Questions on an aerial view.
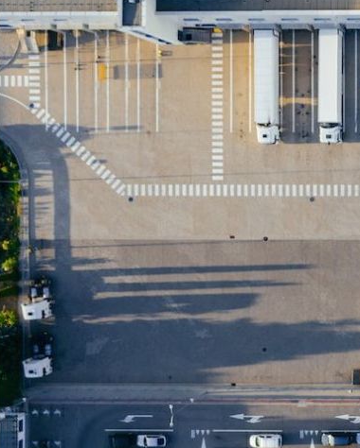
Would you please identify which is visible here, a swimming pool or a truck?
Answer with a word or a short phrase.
truck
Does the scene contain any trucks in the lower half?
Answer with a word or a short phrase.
Yes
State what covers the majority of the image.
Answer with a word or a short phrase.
paved ground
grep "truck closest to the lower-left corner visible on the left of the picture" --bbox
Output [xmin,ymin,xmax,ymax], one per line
[26,337,60,383]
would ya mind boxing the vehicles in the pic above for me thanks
[25,281,58,326]
[323,431,353,447]
[319,31,343,145]
[255,31,281,145]
[110,433,140,448]
[26,337,60,383]
[139,433,167,448]
[250,433,283,448]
